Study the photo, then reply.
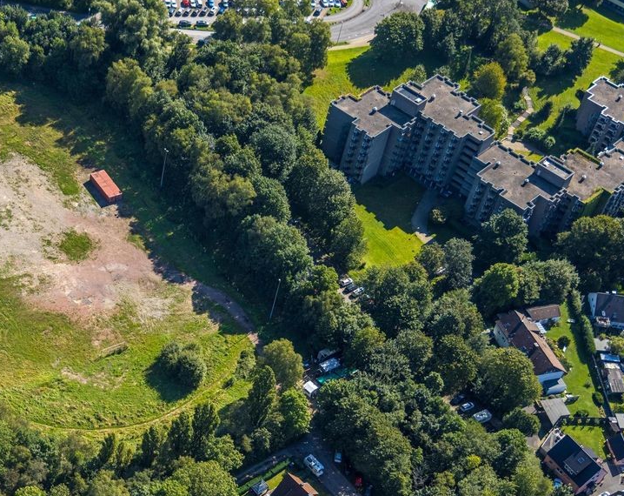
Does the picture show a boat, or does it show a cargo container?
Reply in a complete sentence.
There is a cargo container in the scene.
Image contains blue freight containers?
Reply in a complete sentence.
No, there isn't any blue freight container down there.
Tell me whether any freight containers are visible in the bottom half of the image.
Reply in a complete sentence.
No, there is no freight container in the bottom half of the image.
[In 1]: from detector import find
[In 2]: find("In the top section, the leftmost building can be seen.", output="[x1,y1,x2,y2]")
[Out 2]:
[321,73,499,194]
